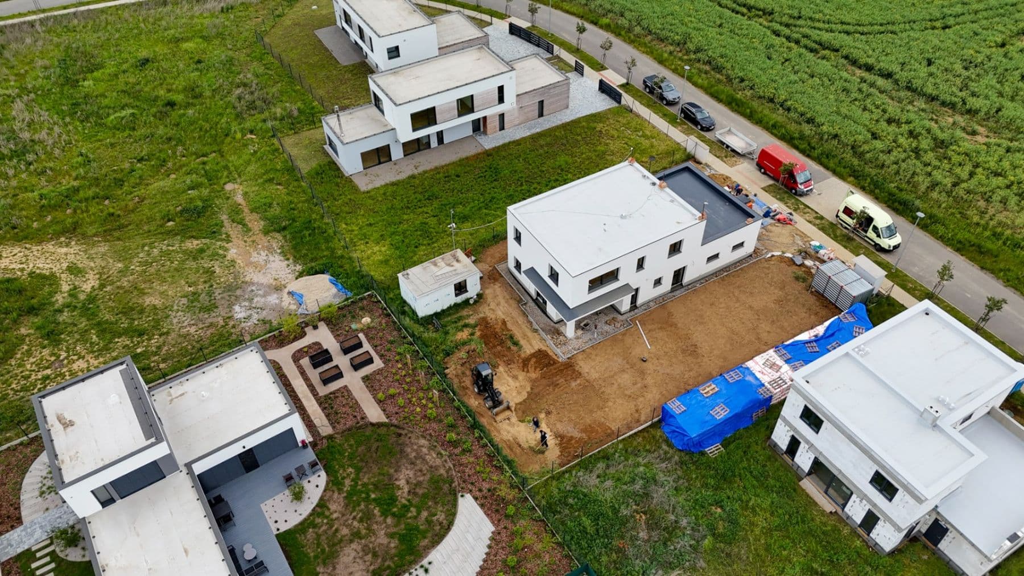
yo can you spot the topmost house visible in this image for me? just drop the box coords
[328,0,490,72]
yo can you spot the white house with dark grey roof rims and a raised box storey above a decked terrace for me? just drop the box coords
[33,345,302,576]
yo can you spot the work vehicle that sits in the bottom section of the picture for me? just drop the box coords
[469,360,517,427]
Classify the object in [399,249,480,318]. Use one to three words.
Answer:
building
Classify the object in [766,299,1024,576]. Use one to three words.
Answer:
house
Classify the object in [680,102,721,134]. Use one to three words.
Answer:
car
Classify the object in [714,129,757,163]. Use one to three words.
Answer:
trailer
